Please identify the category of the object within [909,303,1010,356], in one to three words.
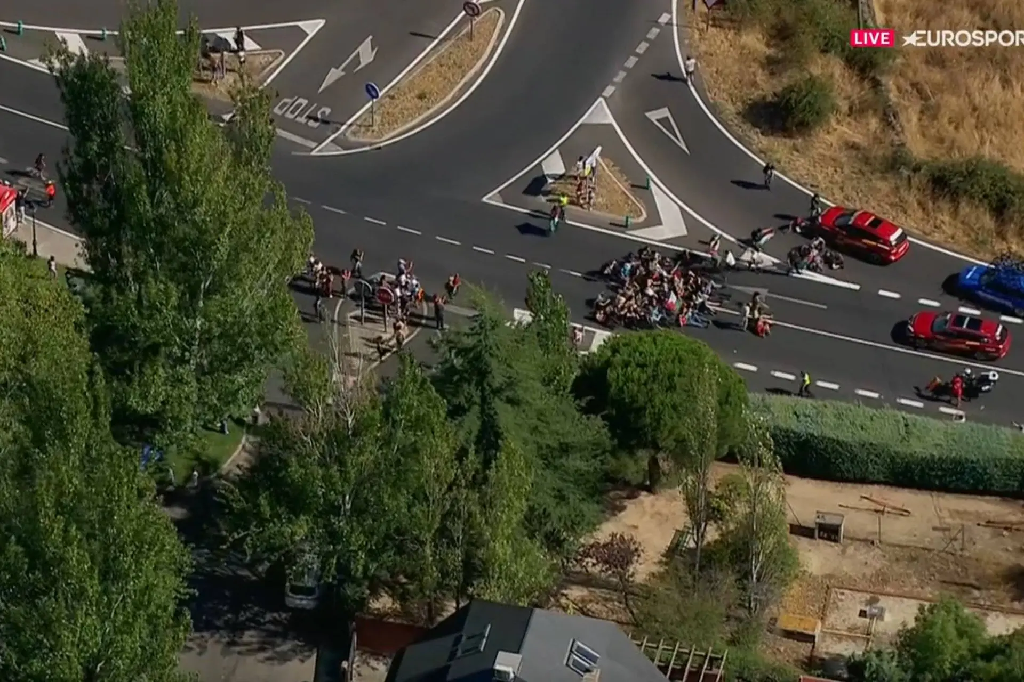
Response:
car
